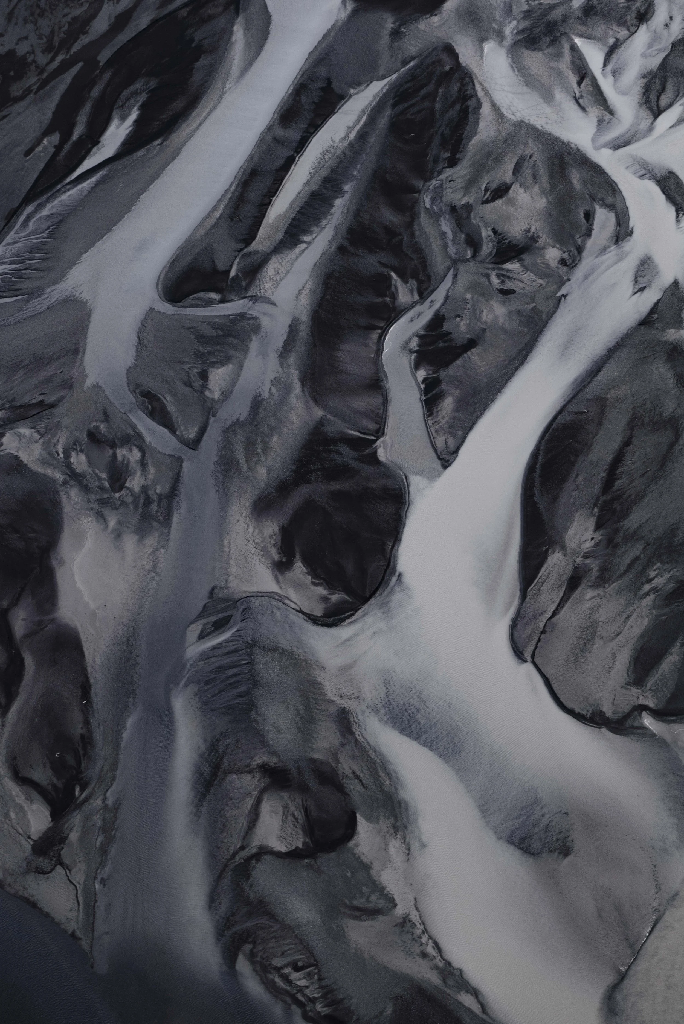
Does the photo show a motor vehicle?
No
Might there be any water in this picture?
Yes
